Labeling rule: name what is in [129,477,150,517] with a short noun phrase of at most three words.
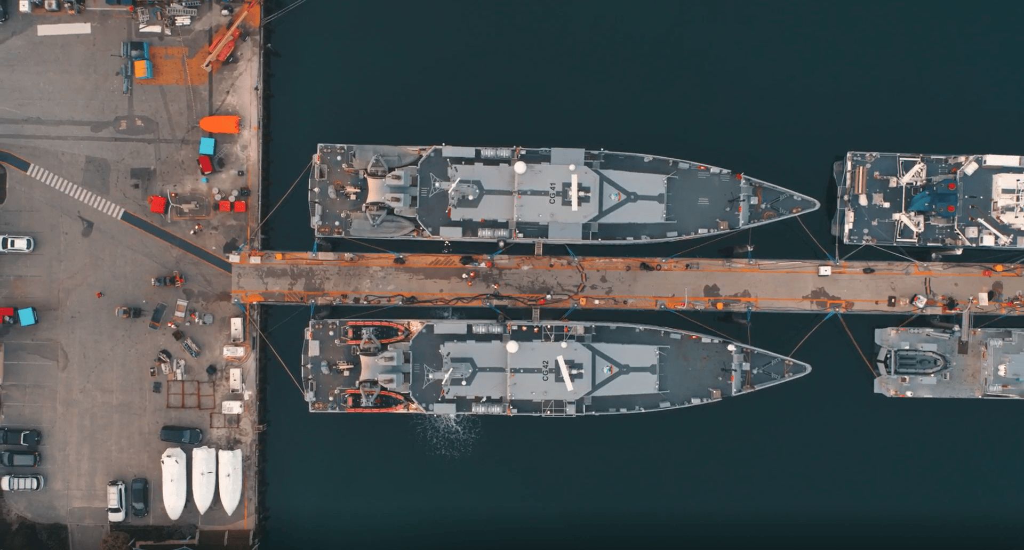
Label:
car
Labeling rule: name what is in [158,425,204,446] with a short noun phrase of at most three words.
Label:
vehicle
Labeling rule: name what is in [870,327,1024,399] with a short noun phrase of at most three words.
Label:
vessel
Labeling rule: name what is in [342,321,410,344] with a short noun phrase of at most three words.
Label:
boat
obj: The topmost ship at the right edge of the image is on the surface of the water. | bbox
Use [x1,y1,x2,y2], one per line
[829,152,1024,248]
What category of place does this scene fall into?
port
